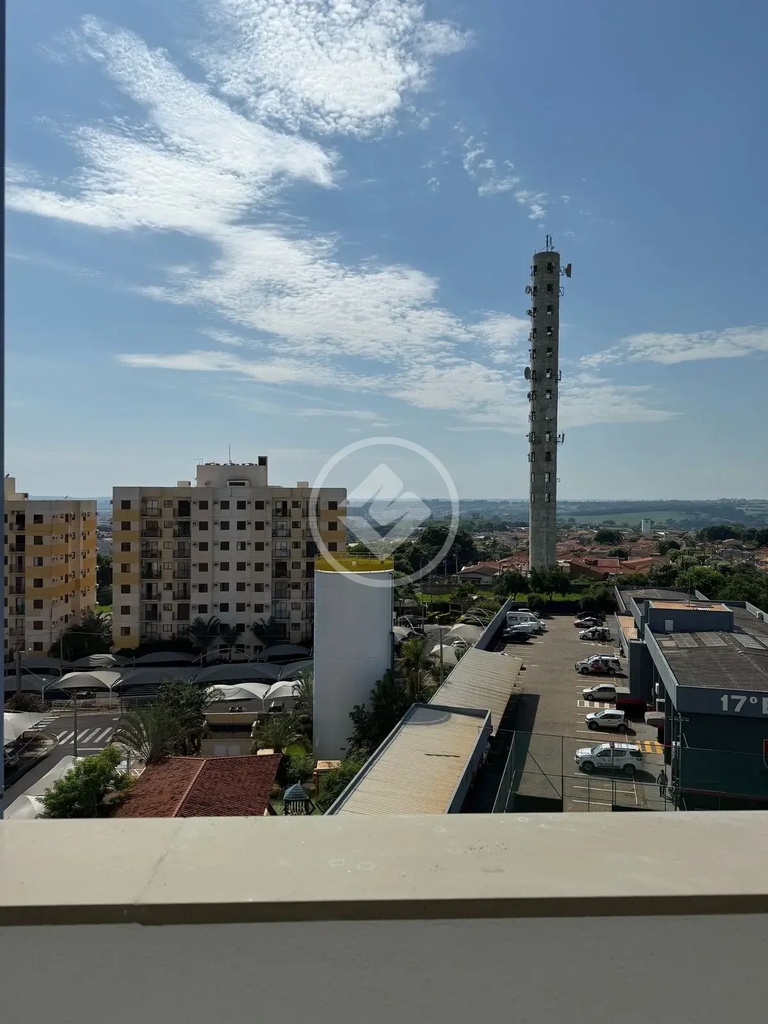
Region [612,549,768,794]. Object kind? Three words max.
building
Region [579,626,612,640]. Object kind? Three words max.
car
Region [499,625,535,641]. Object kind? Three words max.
car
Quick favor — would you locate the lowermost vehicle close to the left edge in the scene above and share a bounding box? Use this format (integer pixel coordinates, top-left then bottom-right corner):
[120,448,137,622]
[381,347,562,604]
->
[3,739,48,765]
